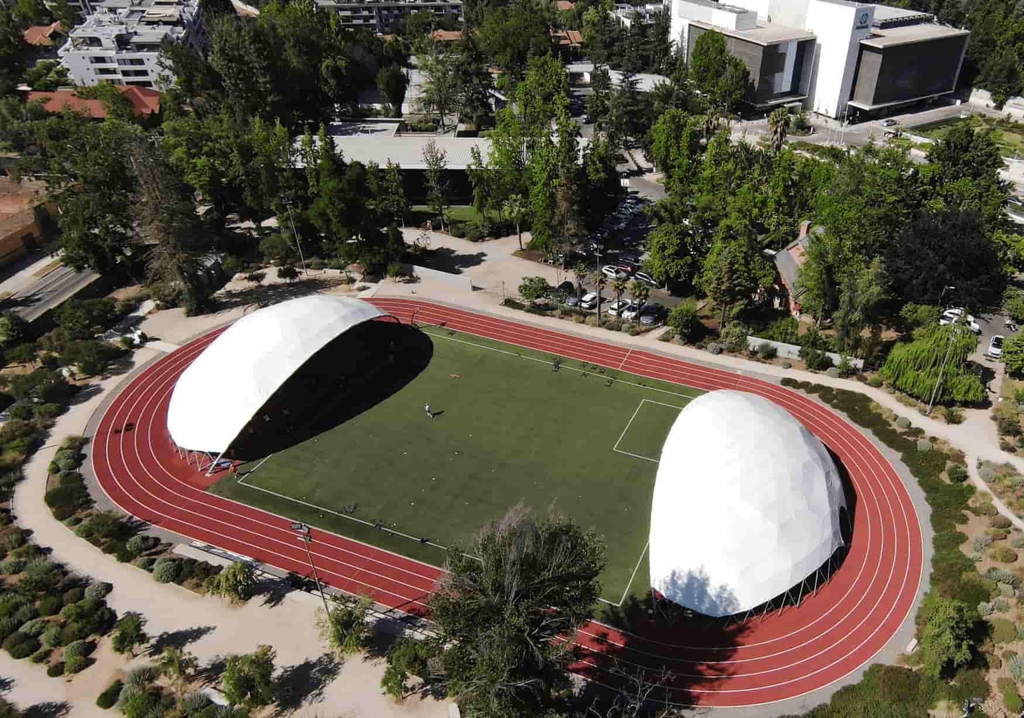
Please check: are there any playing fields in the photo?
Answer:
Yes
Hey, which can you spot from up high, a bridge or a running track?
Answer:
running track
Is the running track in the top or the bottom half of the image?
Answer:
bottom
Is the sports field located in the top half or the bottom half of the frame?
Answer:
bottom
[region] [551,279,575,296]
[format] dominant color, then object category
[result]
black car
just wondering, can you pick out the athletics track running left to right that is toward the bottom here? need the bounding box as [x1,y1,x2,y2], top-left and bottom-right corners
[91,297,919,706]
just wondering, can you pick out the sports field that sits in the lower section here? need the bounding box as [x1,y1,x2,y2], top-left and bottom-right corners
[239,331,688,606]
